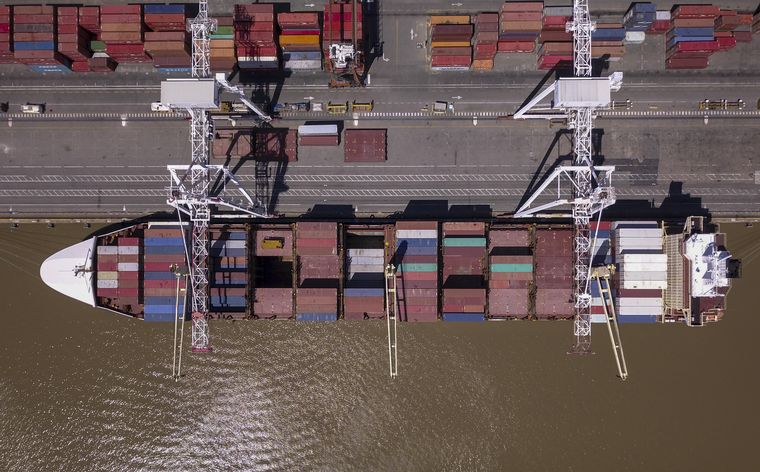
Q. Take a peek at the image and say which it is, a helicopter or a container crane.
container crane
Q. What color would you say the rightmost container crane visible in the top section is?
white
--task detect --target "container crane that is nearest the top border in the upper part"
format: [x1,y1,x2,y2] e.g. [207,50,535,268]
[327,0,366,85]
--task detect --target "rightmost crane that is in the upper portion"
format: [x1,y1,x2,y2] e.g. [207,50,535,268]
[499,0,620,351]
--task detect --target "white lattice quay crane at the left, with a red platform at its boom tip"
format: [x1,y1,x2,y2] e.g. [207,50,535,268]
[161,0,281,353]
